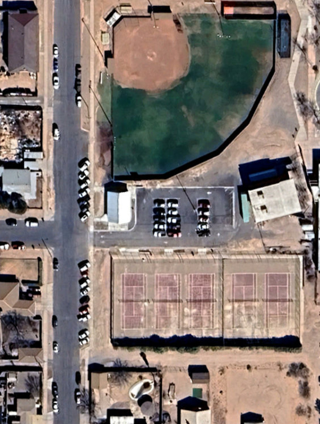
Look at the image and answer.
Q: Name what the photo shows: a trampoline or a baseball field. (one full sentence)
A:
The one in the frame is a baseball field.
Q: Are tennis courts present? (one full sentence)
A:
Yes, a tennis court is visible in the scene.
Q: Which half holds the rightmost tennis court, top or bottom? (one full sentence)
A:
Seen from above, the rightmost tennis court lies in the bottom half of the view.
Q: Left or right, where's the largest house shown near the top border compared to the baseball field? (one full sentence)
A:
From the viewer's perspective, the largest house shown near the top border falls to the left of the baseball field.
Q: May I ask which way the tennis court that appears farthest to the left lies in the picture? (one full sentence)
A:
What the image shows is the tennis court that appears farthest to the left lying vertically.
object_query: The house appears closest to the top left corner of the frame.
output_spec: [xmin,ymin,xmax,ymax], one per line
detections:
[7,6,38,73]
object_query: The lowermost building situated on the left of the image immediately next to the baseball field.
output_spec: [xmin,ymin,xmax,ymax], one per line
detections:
[107,189,132,225]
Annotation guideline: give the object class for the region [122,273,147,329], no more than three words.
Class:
tennis court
